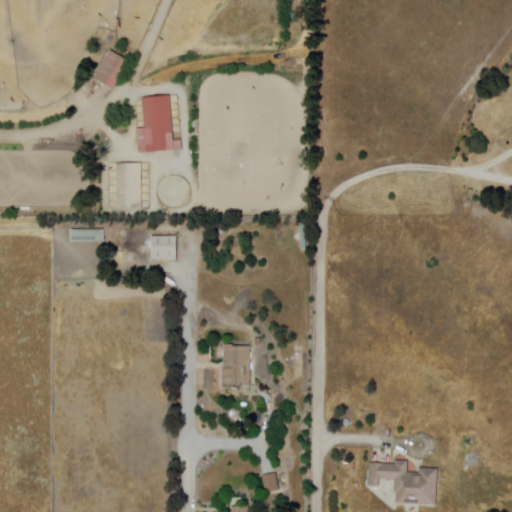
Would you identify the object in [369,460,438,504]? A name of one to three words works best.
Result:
house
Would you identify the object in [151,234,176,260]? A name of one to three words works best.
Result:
building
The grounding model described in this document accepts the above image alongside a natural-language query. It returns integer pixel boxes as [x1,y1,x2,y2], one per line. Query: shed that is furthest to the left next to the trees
[69,228,104,242]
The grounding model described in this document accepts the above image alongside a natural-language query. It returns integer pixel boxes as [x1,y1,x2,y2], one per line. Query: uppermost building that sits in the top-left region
[93,49,124,88]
